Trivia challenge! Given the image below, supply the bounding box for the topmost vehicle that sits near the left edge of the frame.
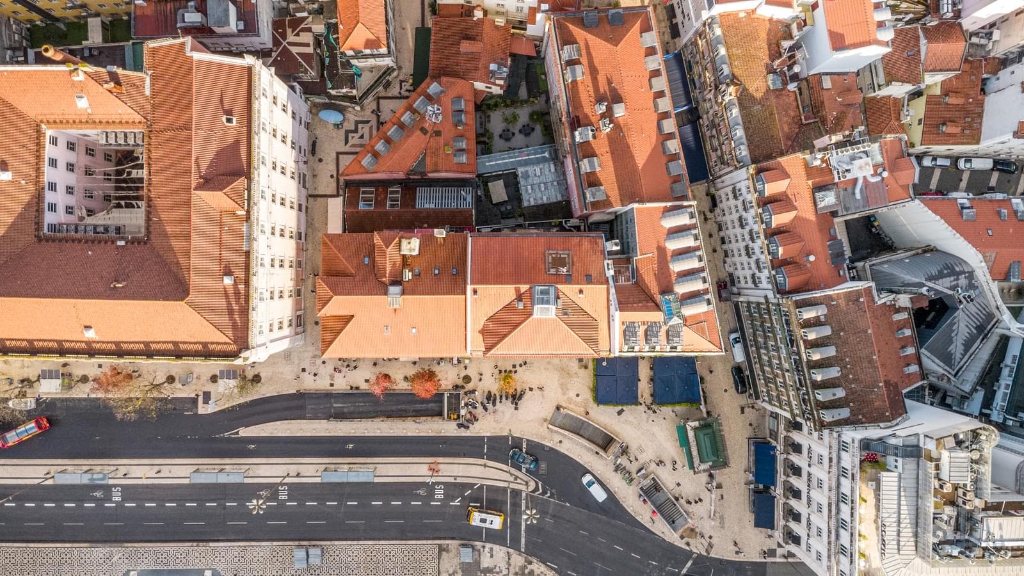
[3,399,33,412]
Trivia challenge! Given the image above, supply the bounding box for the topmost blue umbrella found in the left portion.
[317,109,344,124]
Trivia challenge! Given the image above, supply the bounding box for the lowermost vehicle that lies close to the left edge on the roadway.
[0,415,50,451]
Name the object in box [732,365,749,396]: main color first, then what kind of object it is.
black car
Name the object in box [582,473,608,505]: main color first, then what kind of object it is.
white car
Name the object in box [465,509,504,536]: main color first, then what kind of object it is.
white vehicle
